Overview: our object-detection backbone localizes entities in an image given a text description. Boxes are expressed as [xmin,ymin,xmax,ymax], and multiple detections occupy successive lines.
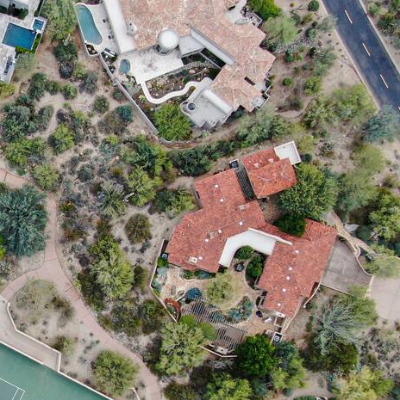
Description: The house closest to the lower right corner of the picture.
[167,141,338,317]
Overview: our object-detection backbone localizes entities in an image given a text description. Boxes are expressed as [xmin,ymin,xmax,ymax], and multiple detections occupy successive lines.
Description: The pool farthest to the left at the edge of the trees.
[0,20,37,47]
